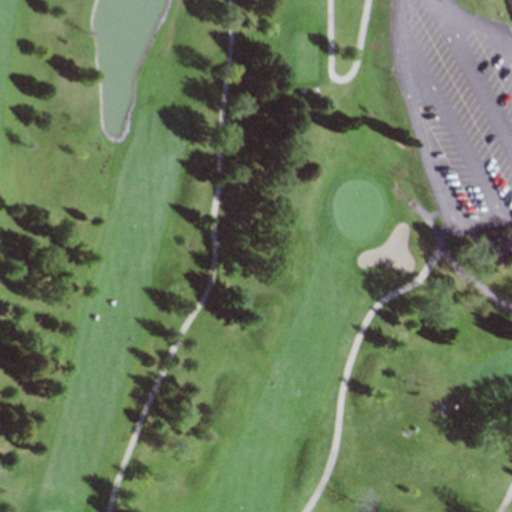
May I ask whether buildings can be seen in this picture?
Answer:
No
